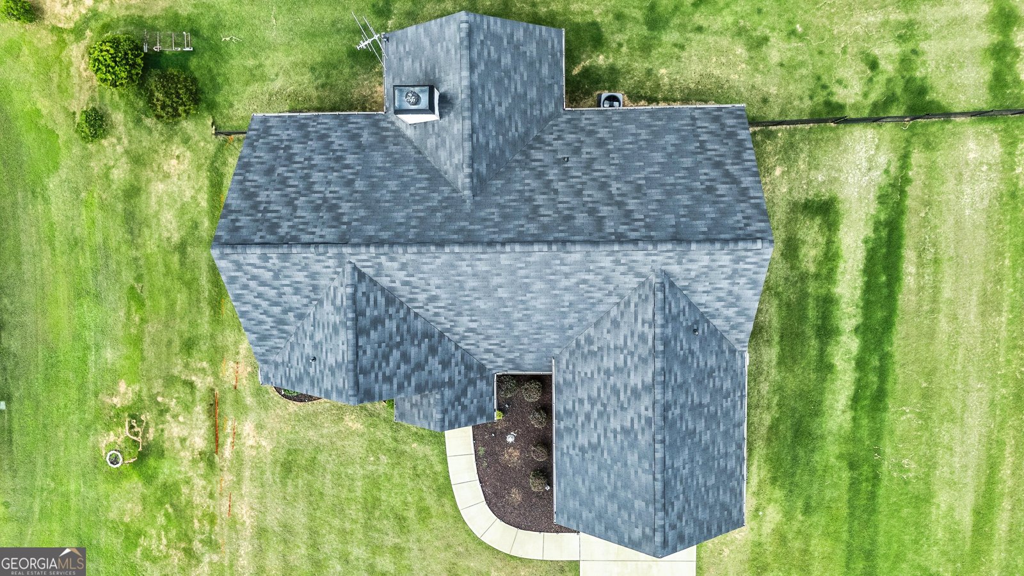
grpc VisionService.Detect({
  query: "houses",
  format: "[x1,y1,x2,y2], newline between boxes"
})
[214,11,773,556]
